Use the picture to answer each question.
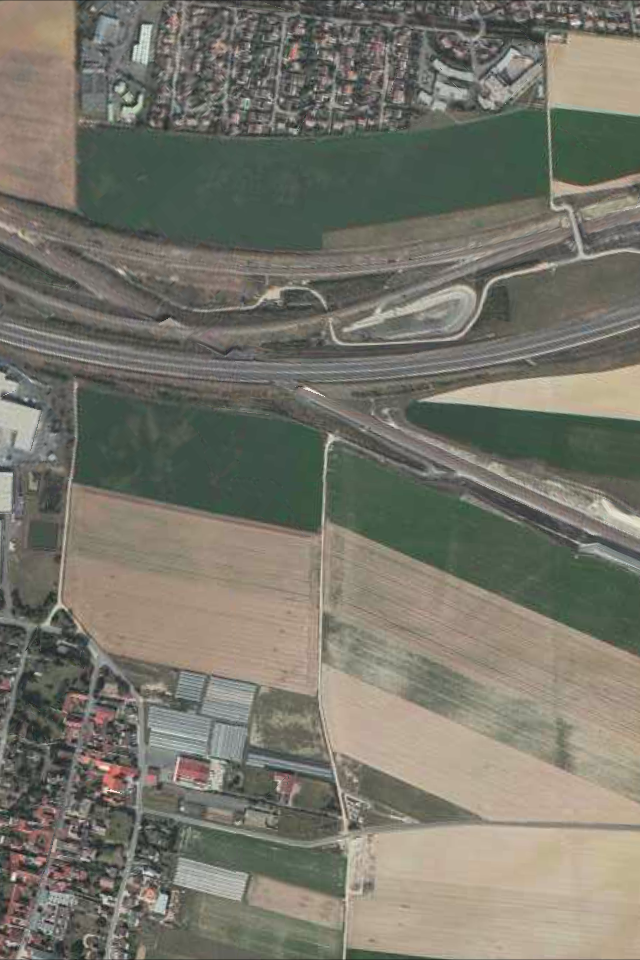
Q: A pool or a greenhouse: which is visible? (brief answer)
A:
greenhouse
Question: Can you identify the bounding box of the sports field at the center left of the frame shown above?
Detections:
[30,522,58,550]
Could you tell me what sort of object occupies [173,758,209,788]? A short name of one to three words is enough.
building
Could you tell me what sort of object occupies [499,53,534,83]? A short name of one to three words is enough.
building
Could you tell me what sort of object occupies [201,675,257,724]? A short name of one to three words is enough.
greenhouse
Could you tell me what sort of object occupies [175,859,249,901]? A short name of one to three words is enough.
greenhouse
